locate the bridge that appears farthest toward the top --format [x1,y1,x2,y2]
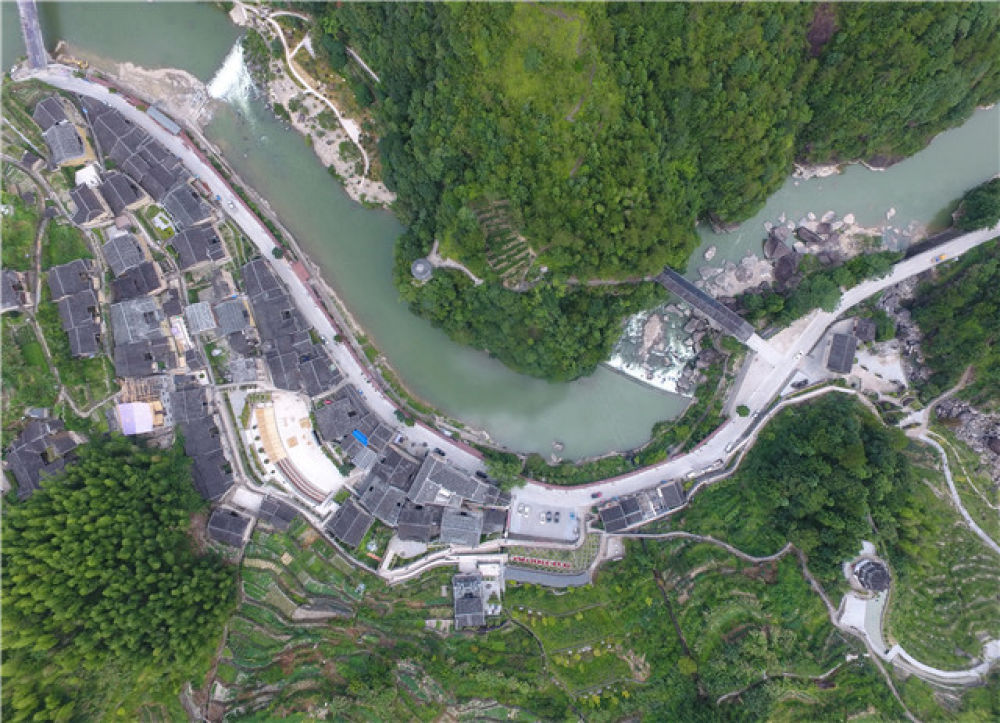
[14,0,49,70]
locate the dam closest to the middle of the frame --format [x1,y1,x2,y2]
[596,362,697,400]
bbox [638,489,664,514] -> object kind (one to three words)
building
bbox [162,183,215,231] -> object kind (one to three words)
house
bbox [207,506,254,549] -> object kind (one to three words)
house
